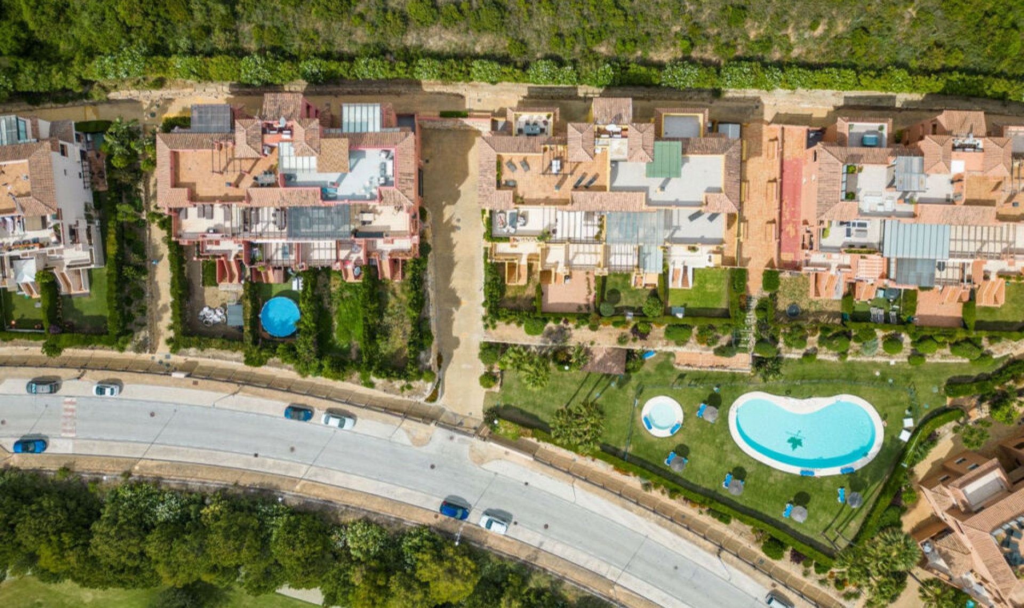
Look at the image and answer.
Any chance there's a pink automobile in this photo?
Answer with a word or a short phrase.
No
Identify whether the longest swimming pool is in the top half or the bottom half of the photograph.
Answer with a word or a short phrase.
bottom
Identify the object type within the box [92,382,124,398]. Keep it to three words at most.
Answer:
car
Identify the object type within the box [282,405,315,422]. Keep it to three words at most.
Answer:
car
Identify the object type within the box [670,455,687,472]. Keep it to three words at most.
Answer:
umbrella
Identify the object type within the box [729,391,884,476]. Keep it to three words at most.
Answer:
swimming pool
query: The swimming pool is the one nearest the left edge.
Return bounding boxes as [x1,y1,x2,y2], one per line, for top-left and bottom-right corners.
[261,296,301,338]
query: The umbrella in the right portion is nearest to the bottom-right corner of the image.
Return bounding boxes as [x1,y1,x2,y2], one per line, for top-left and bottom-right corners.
[846,491,863,508]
